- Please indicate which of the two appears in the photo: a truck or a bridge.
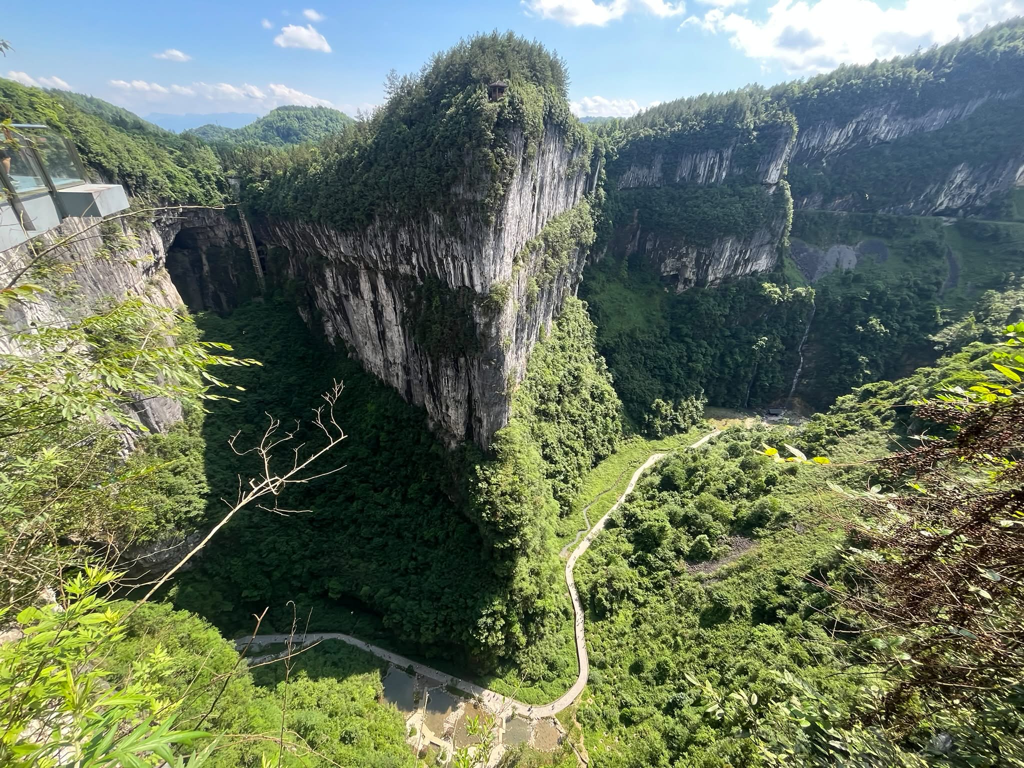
bridge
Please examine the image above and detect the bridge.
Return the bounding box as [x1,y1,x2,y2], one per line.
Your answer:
[156,161,305,326]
